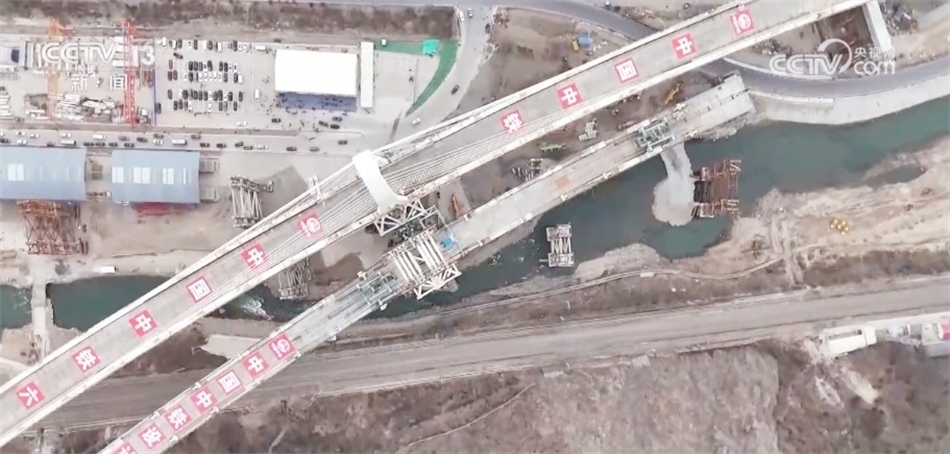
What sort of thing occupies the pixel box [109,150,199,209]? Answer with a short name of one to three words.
shed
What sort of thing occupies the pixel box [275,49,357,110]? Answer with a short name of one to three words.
building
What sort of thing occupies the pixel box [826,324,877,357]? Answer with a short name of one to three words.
building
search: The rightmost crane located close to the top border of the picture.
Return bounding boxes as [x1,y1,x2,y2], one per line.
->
[122,7,149,128]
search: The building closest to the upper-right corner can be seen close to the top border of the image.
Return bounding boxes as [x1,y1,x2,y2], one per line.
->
[864,0,894,54]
